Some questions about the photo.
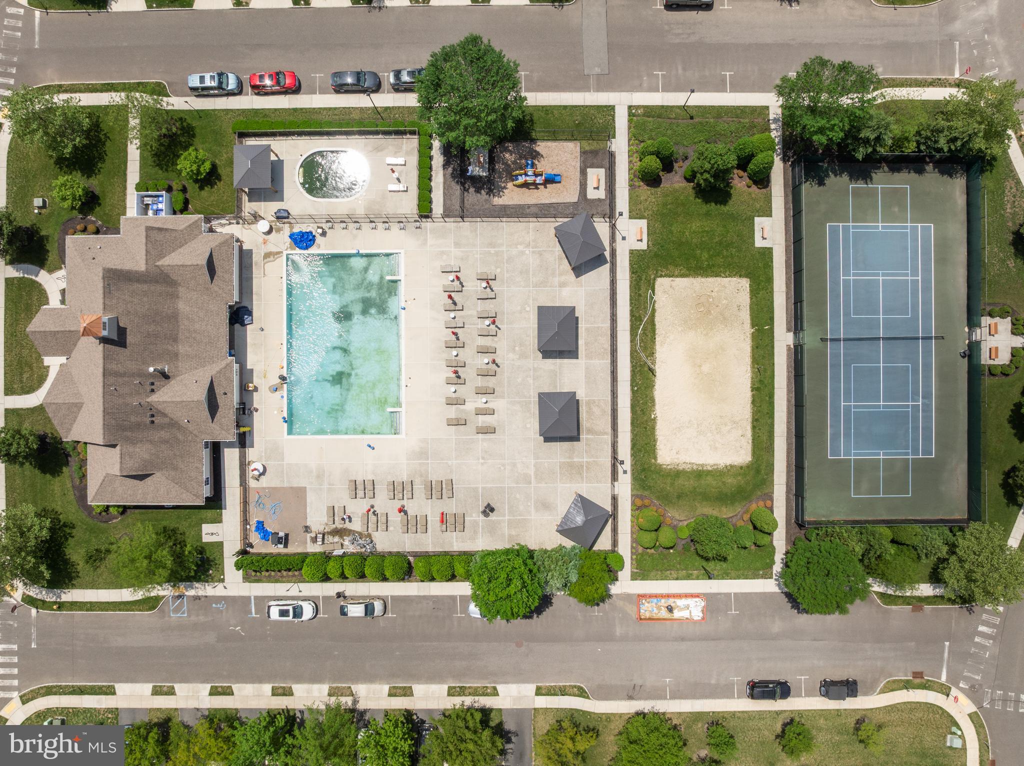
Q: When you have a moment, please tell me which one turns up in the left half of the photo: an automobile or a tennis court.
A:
automobile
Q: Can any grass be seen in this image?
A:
Yes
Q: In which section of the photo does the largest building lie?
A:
left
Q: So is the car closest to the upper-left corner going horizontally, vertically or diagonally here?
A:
horizontally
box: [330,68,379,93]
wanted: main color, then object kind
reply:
gray car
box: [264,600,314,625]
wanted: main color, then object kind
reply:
white car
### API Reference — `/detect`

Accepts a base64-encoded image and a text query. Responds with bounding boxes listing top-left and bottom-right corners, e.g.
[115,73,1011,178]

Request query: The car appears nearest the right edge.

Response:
[823,680,862,704]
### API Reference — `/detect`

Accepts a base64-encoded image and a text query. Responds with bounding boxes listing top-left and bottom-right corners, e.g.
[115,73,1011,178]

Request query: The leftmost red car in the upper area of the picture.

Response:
[246,68,296,94]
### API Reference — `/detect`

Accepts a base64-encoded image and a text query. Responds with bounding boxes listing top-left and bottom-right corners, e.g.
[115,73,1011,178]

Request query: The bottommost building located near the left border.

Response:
[26,214,243,505]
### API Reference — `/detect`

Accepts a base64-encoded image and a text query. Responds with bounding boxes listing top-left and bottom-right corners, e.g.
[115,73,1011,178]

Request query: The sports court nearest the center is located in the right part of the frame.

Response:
[655,277,752,468]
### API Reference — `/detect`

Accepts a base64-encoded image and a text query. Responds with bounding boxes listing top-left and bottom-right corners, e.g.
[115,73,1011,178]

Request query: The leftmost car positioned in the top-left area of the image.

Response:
[184,69,239,95]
